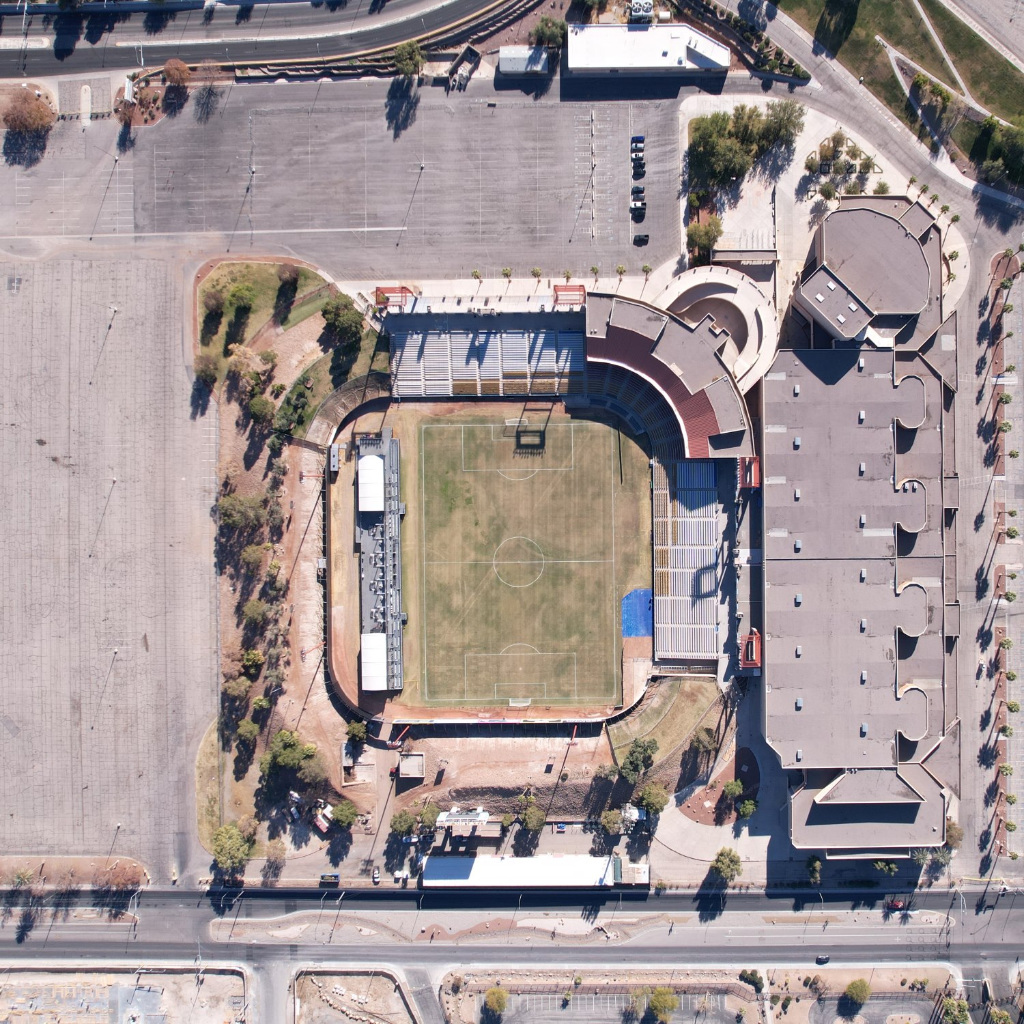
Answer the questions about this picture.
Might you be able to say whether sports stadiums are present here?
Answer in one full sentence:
Yes, there's a sports stadium here.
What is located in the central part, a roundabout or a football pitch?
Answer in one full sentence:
The feature located in the central part is a football pitch.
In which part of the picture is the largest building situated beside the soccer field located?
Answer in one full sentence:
Look in the right portion of the view to spot the largest building situated beside the soccer field.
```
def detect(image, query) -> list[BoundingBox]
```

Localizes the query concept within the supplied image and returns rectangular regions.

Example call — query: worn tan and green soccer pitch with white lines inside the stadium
[417,411,653,708]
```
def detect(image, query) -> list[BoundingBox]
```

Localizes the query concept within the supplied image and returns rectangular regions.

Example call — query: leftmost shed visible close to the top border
[499,45,549,78]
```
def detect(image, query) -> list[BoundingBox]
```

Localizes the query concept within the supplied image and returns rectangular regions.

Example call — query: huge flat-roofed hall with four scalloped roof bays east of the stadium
[758,312,960,858]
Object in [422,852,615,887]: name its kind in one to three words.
shed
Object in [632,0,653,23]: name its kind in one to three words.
cooling tower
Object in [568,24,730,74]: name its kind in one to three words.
building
